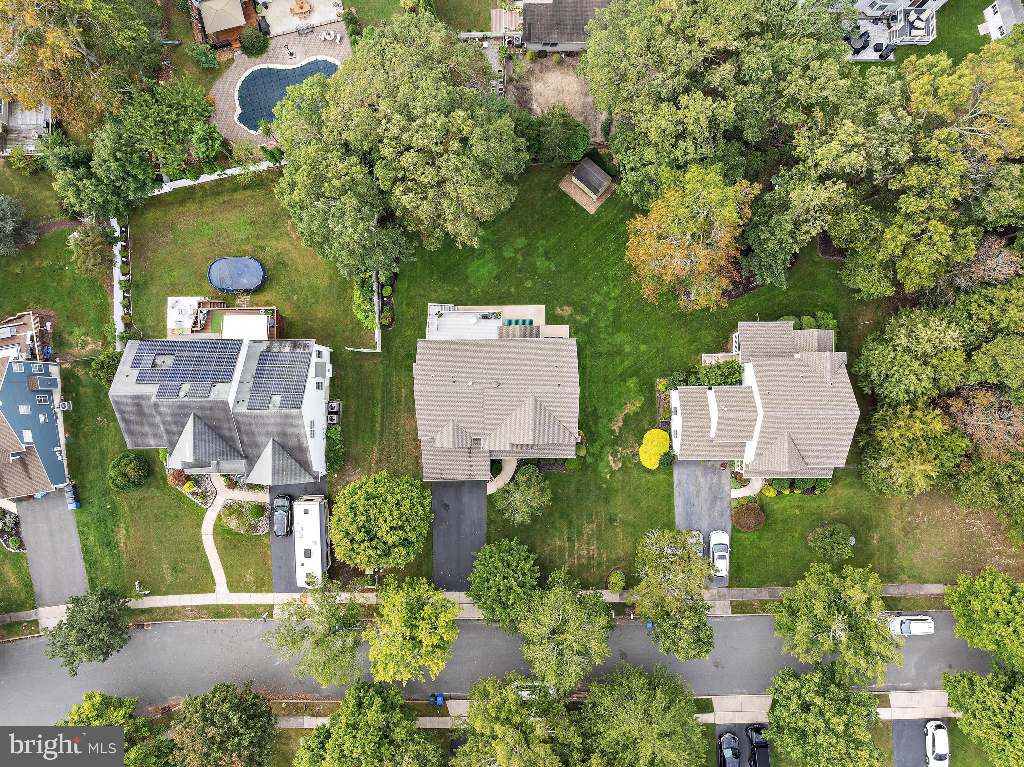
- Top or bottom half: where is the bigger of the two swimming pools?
top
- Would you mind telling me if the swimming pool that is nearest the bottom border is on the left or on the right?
left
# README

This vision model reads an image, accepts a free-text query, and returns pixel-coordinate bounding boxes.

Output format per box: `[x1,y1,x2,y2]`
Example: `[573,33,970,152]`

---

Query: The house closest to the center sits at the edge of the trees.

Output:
[413,325,581,482]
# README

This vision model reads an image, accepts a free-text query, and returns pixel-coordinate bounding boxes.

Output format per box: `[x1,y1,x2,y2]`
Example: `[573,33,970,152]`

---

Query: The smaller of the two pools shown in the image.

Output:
[207,257,267,296]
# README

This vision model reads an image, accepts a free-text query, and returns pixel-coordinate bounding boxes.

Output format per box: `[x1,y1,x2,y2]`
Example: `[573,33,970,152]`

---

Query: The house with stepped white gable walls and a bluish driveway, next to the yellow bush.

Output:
[672,321,863,479]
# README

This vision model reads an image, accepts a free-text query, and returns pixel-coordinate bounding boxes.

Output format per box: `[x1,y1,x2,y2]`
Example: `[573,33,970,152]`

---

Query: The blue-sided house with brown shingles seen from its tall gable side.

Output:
[0,357,69,496]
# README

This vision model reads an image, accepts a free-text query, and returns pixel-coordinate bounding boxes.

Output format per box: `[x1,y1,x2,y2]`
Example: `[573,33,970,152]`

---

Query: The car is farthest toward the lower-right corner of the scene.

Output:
[922,719,949,767]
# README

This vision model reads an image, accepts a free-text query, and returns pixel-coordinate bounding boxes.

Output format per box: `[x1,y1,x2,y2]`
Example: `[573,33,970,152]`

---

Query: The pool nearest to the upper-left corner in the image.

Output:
[235,56,343,135]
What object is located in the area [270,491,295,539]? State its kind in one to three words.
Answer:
car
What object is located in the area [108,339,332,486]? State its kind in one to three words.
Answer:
house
